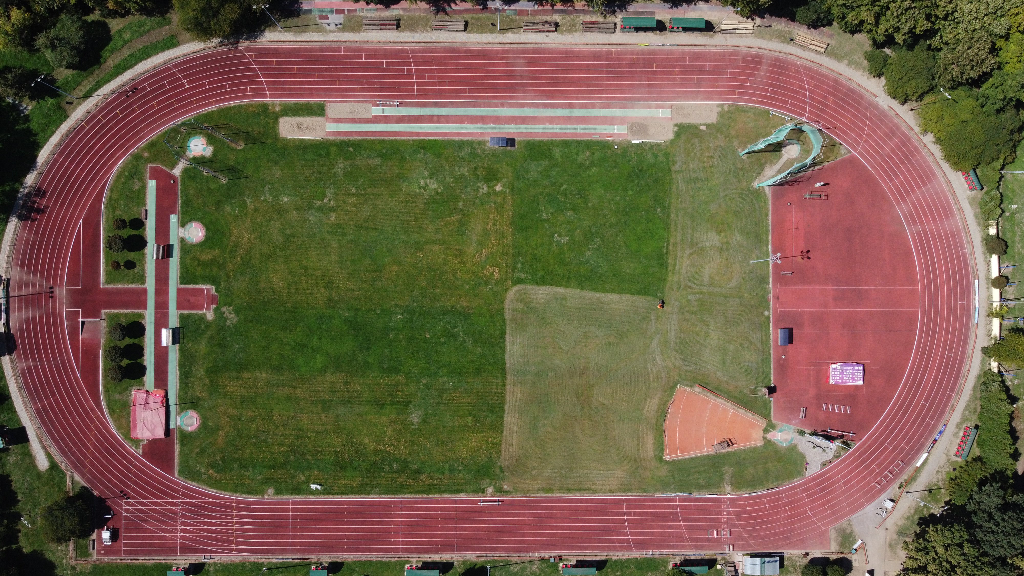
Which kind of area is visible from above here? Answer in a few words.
sports ground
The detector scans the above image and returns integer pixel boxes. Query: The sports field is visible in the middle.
[101,101,856,499]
